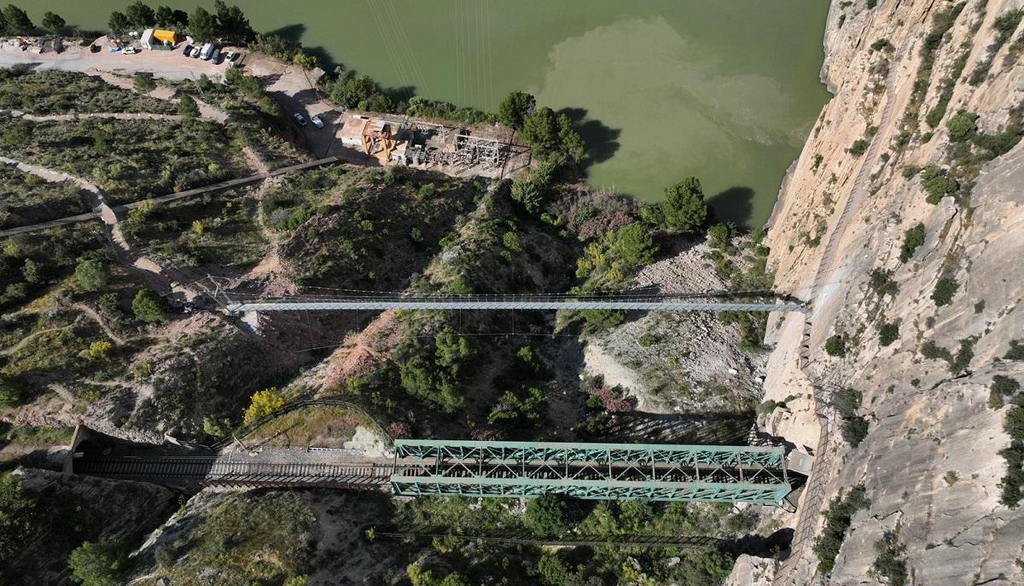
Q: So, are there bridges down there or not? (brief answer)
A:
Yes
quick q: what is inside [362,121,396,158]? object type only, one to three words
building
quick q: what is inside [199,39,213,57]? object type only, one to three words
vehicle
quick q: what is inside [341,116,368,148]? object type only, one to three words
building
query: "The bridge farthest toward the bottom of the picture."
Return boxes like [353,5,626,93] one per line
[386,443,799,521]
